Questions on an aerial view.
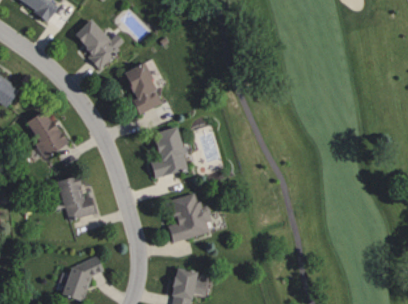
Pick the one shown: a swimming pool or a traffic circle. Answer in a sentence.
There is a swimming pool in the scene.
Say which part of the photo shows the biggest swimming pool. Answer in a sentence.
The biggest swimming pool sits in the center section of the image.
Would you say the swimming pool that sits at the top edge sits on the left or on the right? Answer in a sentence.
You can find the swimming pool that sits at the top edge on the left side of the picture.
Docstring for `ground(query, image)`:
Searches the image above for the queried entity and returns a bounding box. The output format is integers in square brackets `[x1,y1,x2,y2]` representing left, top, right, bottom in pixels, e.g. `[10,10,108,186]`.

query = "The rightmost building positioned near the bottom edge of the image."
[172,268,207,304]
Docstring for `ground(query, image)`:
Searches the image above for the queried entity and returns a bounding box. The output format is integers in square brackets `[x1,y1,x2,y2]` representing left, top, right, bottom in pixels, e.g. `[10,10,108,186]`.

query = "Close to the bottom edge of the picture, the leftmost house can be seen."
[64,258,104,301]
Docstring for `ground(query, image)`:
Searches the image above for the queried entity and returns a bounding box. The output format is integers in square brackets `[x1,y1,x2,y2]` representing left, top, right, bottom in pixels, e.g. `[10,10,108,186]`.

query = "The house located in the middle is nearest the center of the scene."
[150,127,190,178]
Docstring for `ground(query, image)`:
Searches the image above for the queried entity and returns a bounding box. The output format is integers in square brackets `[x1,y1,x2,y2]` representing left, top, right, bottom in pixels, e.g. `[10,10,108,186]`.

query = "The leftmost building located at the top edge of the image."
[16,0,59,23]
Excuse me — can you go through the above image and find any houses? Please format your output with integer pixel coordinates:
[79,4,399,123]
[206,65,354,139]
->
[168,194,212,243]
[125,64,168,114]
[0,82,16,109]
[76,20,126,70]
[64,258,104,301]
[28,113,68,161]
[58,177,97,220]
[150,127,190,178]
[16,0,59,23]
[172,268,207,304]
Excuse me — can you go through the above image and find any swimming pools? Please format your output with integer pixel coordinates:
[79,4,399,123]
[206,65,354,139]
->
[115,9,150,42]
[191,125,223,176]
